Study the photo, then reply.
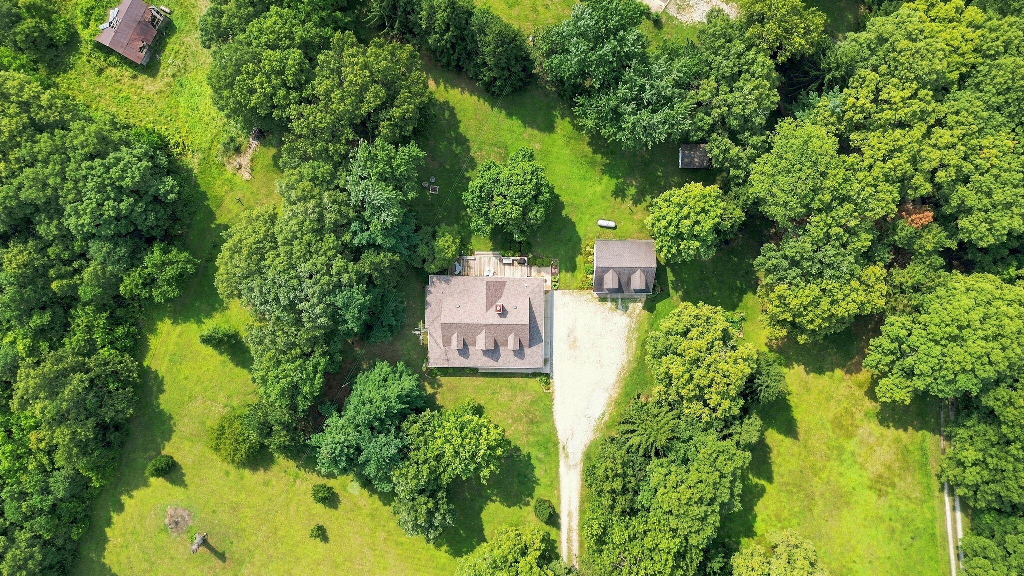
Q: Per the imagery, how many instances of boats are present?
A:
0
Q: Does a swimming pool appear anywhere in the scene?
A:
No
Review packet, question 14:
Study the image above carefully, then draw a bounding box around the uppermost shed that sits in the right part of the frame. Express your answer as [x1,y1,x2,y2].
[678,144,712,169]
